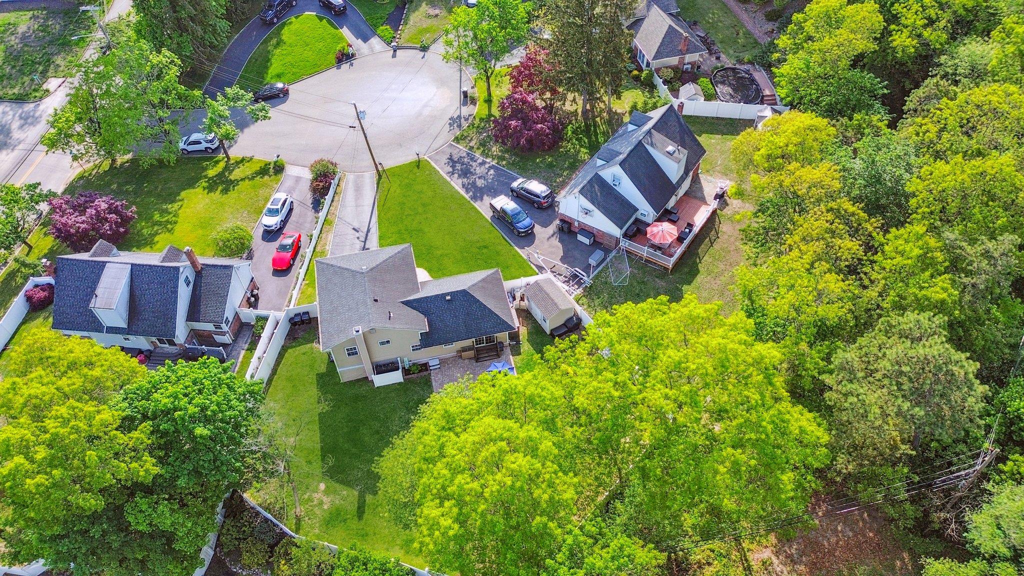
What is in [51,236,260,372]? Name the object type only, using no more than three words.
house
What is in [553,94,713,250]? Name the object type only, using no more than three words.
house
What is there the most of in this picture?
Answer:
trees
